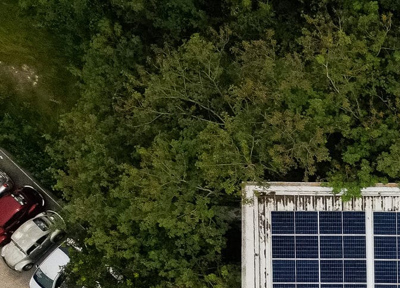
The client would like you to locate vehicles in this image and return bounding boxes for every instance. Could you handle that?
[5,217,69,278]
[31,239,82,288]
[0,167,17,199]
[0,187,43,251]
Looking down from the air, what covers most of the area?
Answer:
trees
